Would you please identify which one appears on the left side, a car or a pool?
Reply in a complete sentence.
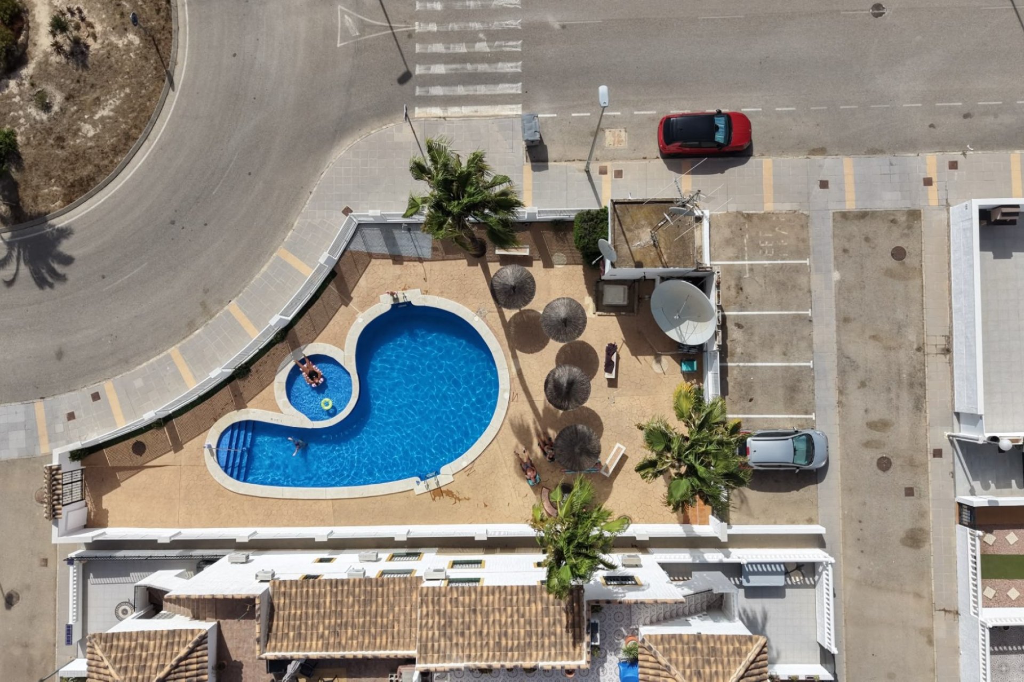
It is a pool that can be seen on the left side.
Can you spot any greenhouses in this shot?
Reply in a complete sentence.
No, there's no greenhouse here.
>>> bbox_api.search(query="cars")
[740,429,832,476]
[658,105,752,155]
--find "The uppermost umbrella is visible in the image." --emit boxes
[489,263,537,313]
